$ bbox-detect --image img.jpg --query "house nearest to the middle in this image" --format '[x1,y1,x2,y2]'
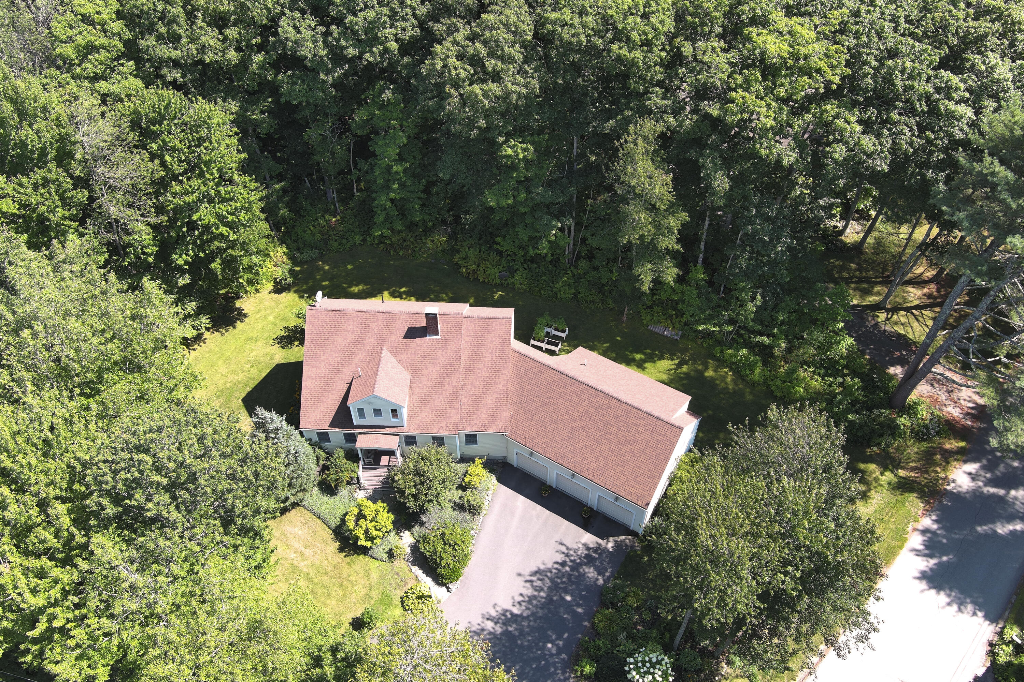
[299,292,701,534]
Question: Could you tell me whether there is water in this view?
No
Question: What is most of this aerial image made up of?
trees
